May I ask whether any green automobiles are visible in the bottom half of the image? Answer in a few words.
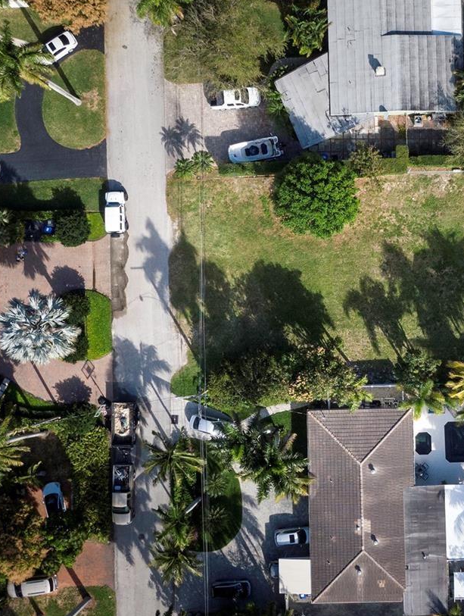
No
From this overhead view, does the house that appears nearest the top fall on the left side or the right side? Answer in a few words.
right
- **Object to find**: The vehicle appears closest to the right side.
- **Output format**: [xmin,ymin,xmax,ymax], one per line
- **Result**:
[273,527,310,546]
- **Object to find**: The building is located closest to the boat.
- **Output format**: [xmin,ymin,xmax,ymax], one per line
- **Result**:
[276,0,463,148]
